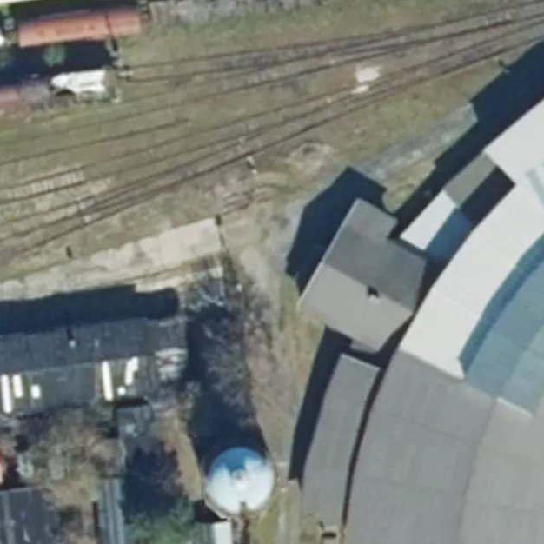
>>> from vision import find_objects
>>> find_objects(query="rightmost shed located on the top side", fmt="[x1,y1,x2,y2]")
[445,153,510,221]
